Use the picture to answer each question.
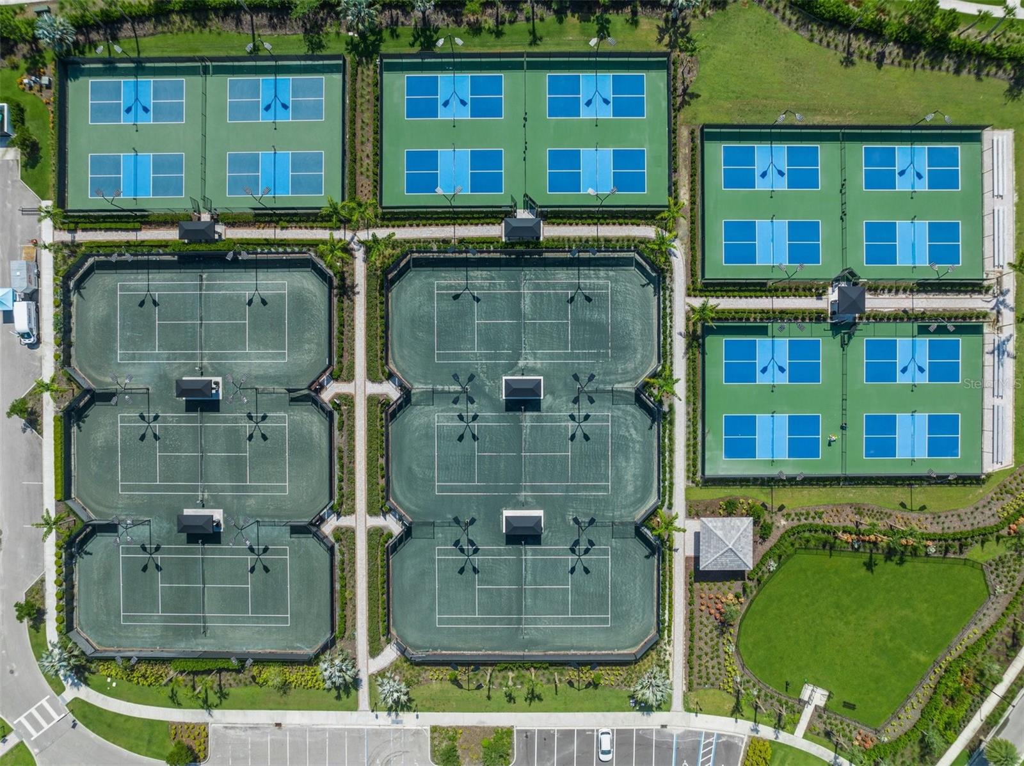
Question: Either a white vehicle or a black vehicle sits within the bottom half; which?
white vehicle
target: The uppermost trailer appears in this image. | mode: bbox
[13,247,39,300]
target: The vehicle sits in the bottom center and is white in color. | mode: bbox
[597,729,613,764]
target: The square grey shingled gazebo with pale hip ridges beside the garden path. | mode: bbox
[698,516,754,571]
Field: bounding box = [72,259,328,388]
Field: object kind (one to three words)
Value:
tennis court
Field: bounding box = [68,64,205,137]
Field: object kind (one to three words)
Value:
sports court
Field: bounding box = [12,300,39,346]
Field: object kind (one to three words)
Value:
vehicle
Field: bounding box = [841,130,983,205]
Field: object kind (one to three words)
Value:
sports court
